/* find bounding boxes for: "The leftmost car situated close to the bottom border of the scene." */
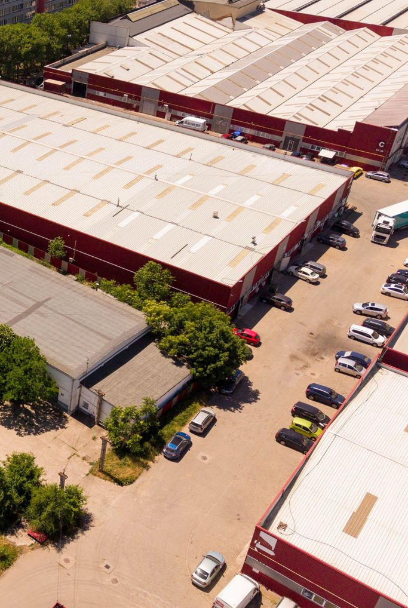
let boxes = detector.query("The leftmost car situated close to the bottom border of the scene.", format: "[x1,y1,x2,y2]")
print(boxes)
[191,550,228,588]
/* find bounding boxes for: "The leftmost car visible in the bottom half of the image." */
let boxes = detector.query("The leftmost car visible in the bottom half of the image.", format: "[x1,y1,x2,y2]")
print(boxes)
[164,430,192,460]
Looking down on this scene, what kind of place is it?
industrial area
